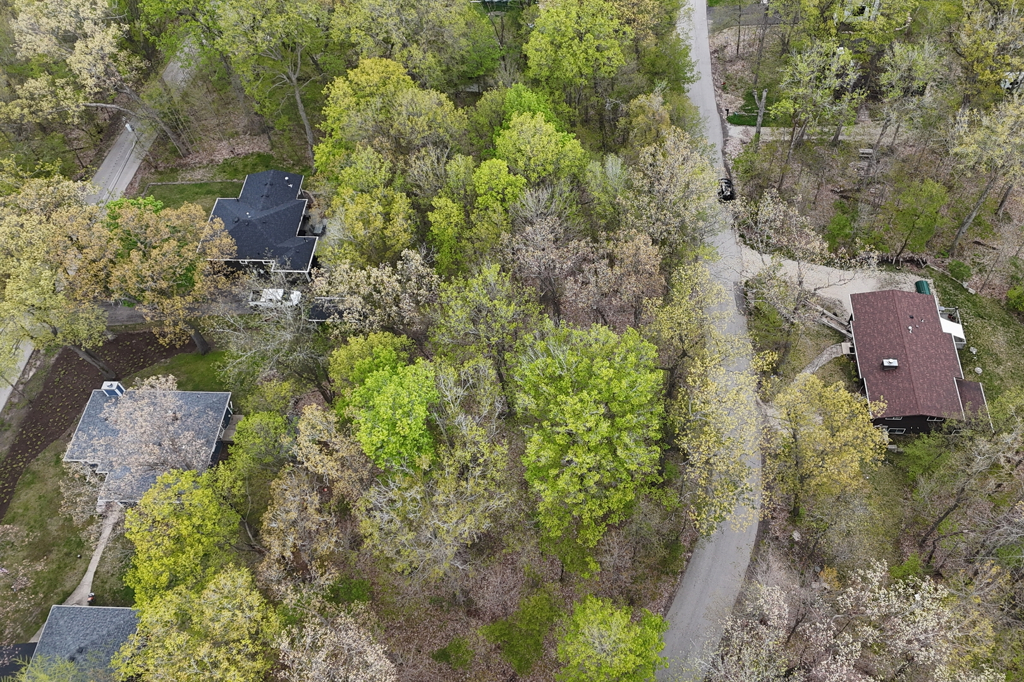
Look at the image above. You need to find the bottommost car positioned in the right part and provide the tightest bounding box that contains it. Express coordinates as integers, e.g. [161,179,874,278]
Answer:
[720,173,736,198]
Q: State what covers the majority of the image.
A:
trees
